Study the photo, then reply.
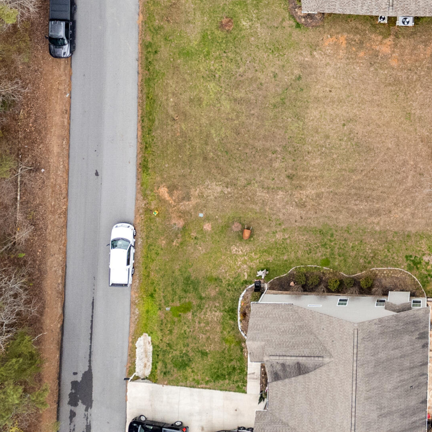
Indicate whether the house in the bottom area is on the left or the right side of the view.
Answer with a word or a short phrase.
right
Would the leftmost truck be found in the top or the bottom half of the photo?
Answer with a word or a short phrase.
top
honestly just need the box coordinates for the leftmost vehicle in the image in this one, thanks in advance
[46,0,78,60]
